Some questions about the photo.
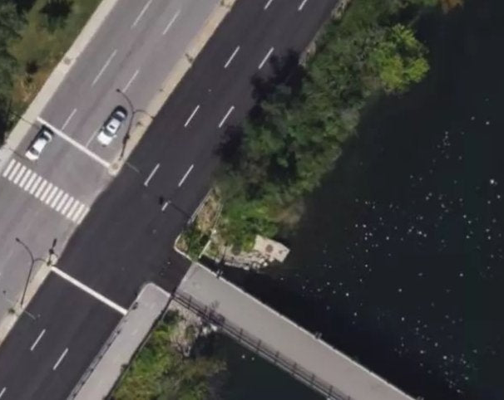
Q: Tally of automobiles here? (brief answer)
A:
2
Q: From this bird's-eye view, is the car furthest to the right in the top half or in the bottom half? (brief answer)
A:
top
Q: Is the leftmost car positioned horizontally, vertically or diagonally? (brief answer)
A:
diagonally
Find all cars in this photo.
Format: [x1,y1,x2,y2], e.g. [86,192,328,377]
[26,129,54,162]
[97,107,128,144]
